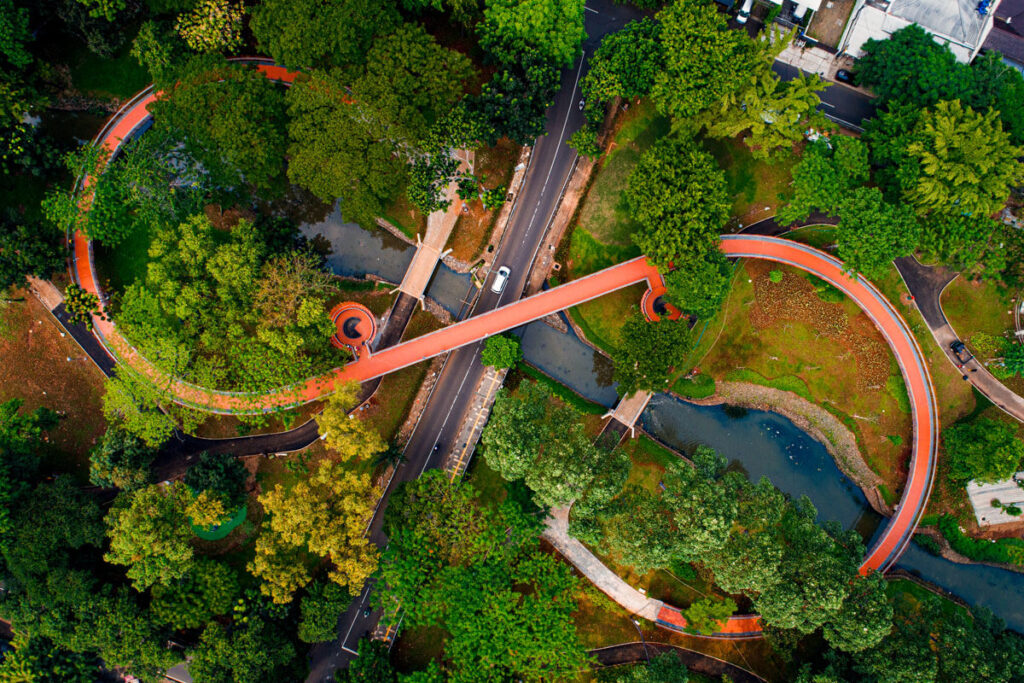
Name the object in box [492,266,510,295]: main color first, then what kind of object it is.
white car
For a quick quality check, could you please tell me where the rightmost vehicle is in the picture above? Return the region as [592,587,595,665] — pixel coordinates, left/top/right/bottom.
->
[949,339,974,366]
